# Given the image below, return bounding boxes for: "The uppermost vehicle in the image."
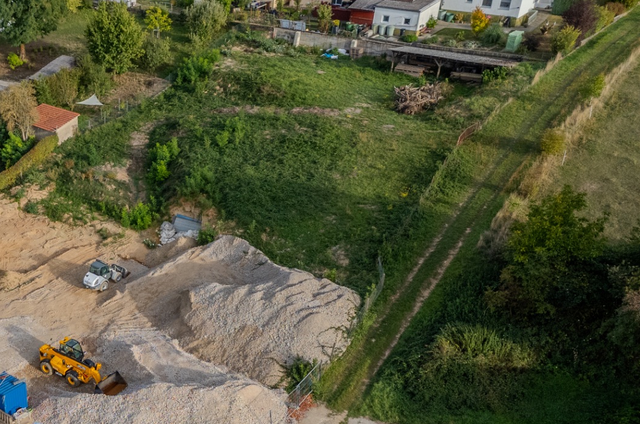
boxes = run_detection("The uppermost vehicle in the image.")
[79,254,134,293]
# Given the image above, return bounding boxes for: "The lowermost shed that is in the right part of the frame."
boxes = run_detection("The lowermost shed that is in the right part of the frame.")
[384,46,518,80]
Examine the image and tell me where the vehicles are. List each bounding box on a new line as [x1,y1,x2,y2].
[34,336,123,395]
[79,254,134,293]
